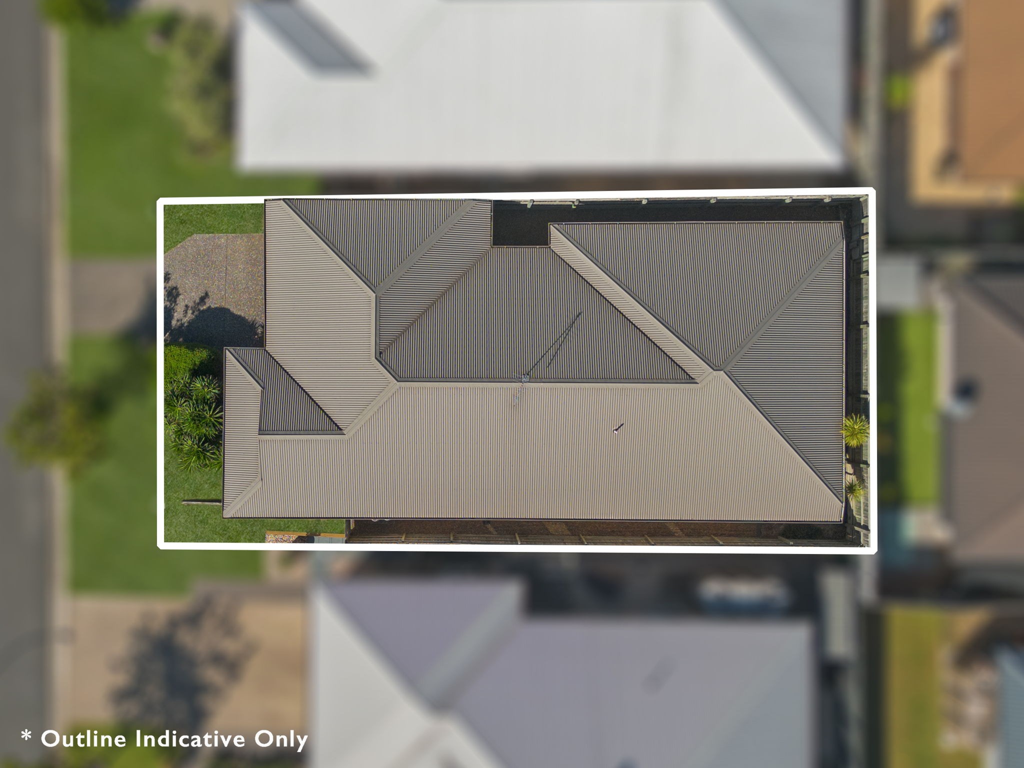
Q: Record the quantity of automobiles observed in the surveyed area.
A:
none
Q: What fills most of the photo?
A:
buildings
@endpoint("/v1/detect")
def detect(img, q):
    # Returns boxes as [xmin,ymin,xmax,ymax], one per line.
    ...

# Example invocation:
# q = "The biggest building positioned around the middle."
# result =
[223,195,849,522]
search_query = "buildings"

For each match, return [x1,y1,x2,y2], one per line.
[952,0,1024,182]
[240,0,847,179]
[852,259,922,311]
[313,575,810,768]
[975,642,1024,768]
[935,274,1024,561]
[223,195,849,522]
